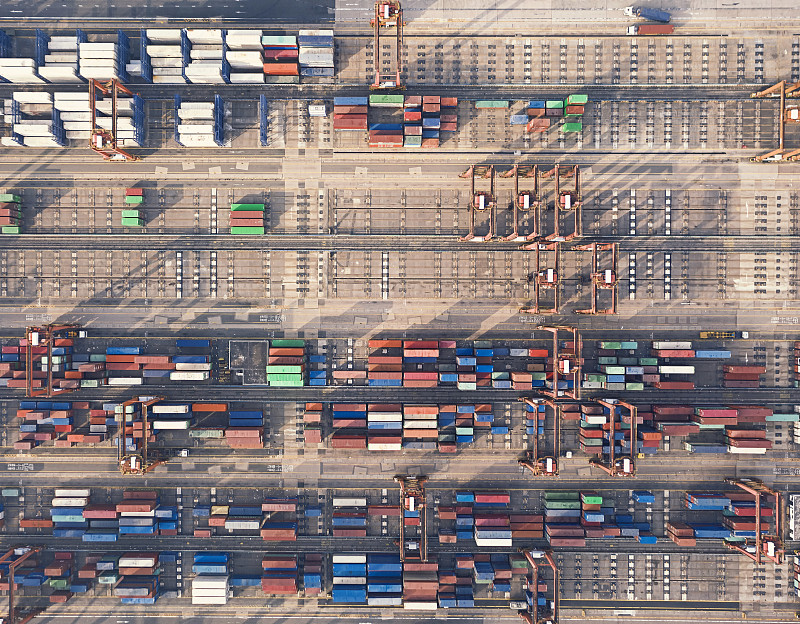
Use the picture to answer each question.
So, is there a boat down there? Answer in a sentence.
No, no boat can be seen from above.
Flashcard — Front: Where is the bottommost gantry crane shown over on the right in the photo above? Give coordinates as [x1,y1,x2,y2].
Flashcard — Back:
[519,548,562,624]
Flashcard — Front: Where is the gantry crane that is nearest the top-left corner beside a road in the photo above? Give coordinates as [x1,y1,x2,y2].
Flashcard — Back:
[87,78,138,161]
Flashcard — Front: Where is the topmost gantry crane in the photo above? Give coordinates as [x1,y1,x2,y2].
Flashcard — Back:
[371,1,408,89]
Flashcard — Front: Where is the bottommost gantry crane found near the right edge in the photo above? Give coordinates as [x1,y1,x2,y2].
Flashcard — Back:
[729,476,787,561]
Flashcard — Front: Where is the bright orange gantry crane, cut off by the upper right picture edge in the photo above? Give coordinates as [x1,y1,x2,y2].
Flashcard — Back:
[753,79,800,162]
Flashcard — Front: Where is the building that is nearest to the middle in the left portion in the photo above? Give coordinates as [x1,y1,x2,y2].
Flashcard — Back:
[229,341,269,384]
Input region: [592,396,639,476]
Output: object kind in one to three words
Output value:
container crane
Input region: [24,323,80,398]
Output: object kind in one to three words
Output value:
container crane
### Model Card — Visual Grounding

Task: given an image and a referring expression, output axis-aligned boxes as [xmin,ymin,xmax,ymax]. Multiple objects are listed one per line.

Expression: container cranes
[394,477,431,561]
[520,241,563,316]
[753,79,800,162]
[0,548,42,624]
[24,323,80,398]
[87,78,138,161]
[116,395,168,474]
[540,165,585,243]
[592,396,639,476]
[371,1,408,89]
[459,165,500,243]
[520,395,562,475]
[501,165,544,243]
[538,323,584,399]
[519,548,562,624]
[729,476,787,561]
[574,241,621,316]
